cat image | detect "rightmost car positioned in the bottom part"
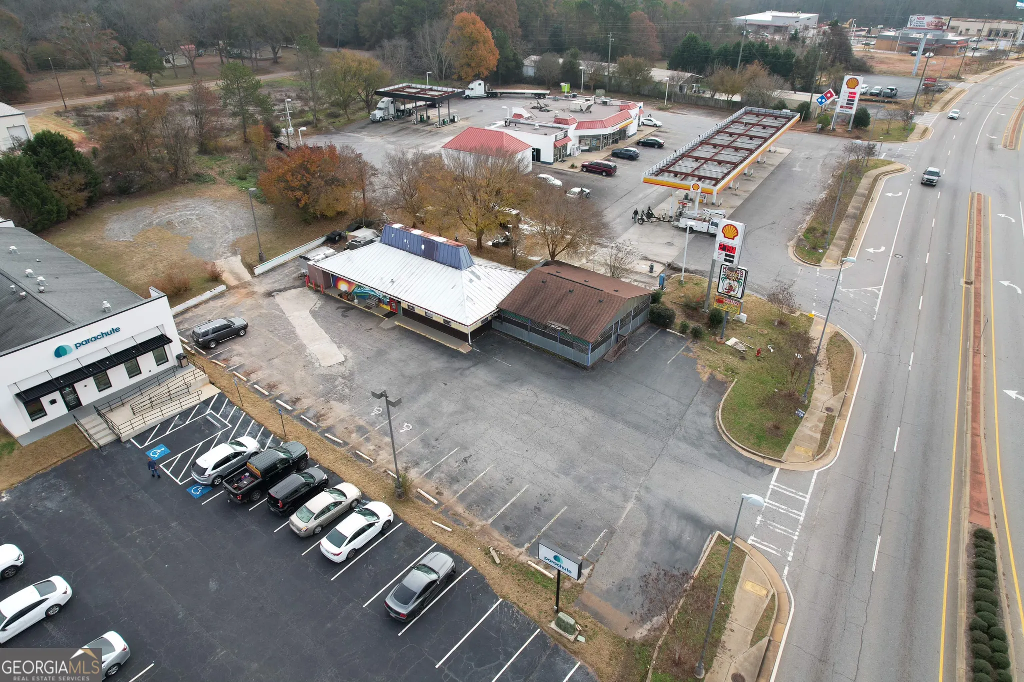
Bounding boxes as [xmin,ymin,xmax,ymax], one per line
[383,549,460,624]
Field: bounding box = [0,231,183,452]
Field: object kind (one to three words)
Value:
building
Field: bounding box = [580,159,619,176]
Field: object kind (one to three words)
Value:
car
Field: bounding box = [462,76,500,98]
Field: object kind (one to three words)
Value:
truck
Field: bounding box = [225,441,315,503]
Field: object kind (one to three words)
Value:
vehicle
